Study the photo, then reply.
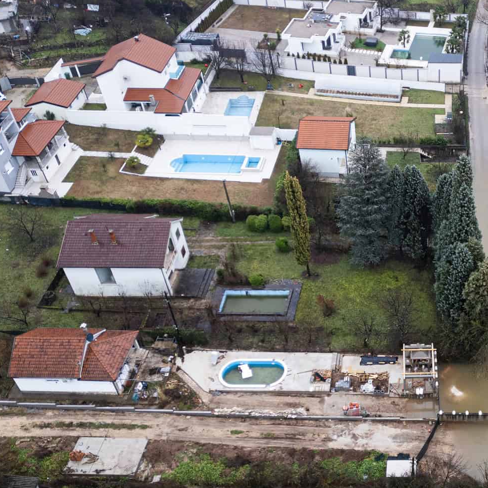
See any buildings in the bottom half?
Yes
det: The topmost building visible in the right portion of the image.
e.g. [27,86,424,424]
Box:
[284,0,374,60]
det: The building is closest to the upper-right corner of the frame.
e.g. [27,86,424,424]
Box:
[427,55,463,86]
